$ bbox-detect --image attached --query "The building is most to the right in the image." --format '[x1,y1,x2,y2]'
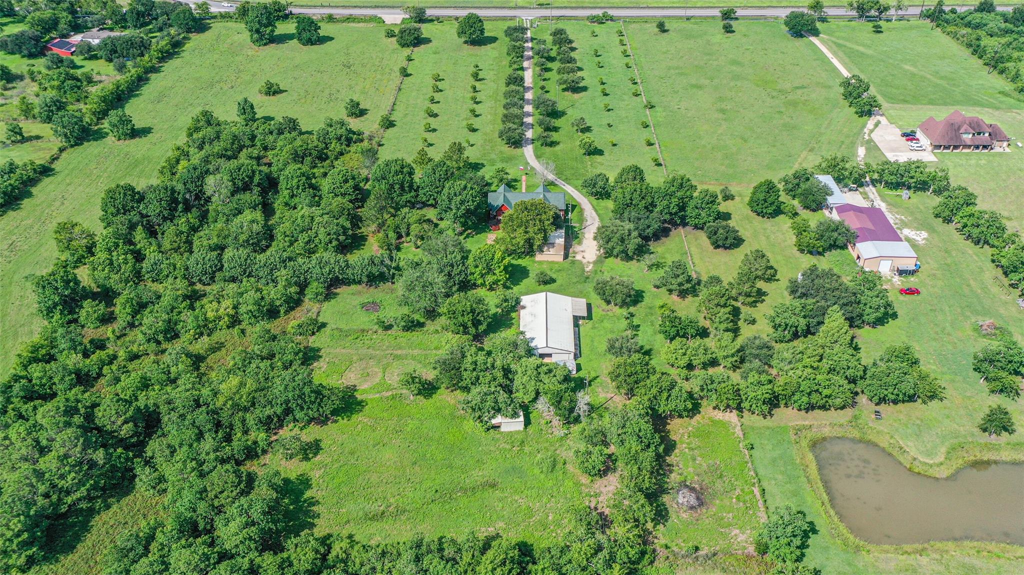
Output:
[917,107,1013,152]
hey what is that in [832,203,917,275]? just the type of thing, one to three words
building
